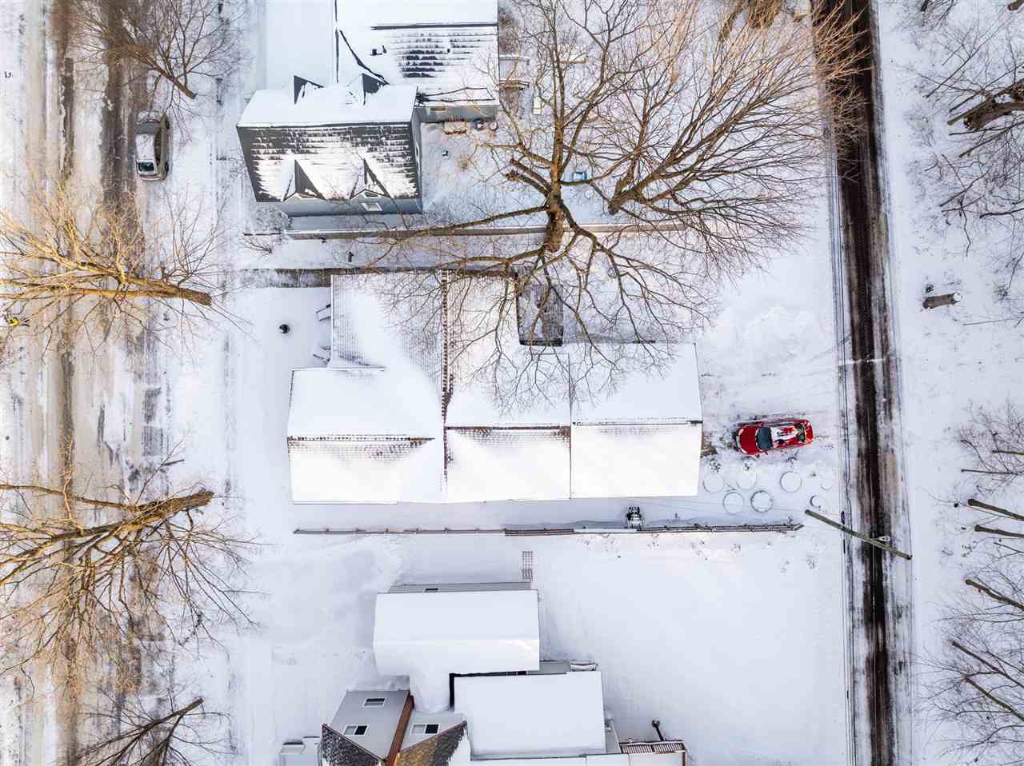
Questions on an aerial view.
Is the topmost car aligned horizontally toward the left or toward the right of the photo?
right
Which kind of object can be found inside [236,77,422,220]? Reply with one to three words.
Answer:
house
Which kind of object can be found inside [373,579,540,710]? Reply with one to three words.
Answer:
house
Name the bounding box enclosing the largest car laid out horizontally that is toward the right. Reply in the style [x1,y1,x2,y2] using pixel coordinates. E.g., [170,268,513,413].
[732,418,812,458]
